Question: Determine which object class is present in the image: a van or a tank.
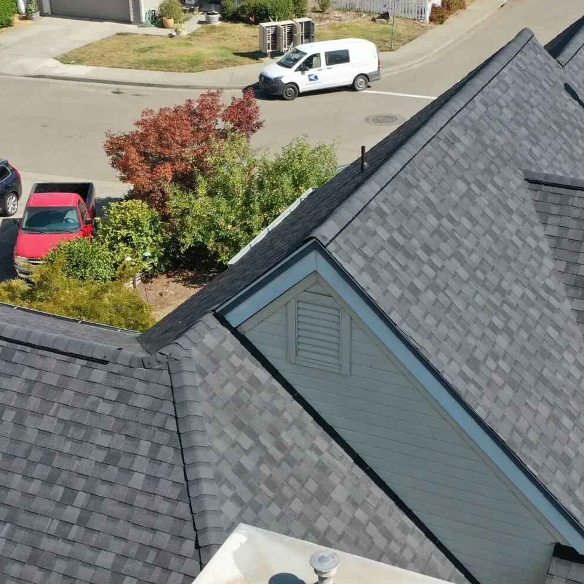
van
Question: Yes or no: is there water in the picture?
No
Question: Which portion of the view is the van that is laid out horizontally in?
top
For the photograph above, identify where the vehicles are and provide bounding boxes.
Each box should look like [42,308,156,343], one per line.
[14,179,92,266]
[252,35,385,101]
[0,160,19,215]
